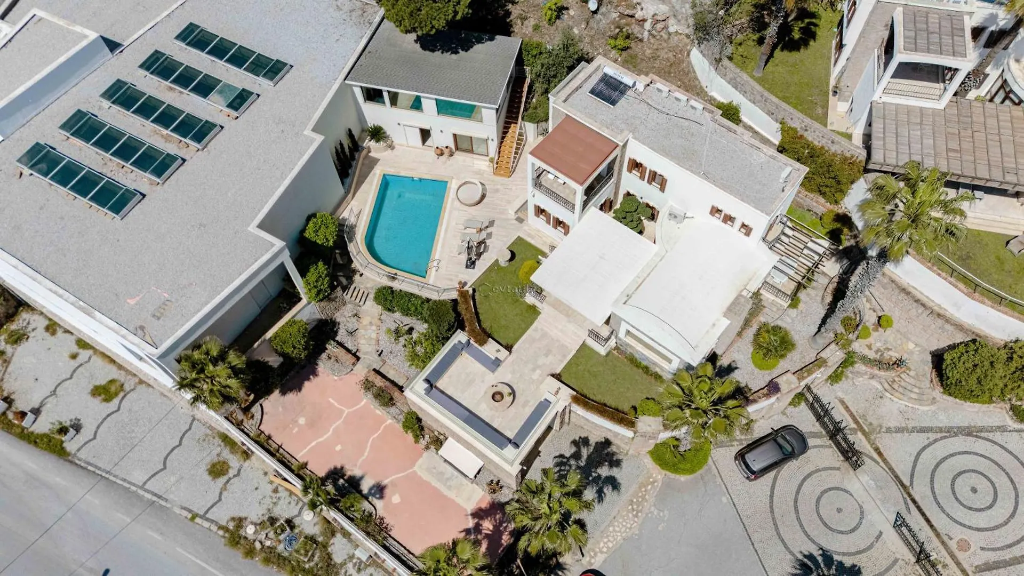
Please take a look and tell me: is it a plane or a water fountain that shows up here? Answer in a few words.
water fountain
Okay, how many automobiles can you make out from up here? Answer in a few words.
1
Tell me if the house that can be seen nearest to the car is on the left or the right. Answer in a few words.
right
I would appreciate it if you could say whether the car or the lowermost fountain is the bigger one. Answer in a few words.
the car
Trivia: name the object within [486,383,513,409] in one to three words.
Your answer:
fountain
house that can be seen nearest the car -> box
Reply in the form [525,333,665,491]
[527,55,807,391]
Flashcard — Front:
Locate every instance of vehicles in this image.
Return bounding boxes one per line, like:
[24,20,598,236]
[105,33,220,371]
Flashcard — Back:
[735,430,809,483]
